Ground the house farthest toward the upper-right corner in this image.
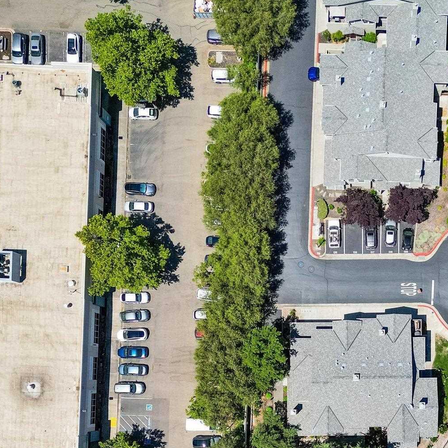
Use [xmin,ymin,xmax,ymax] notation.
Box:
[320,0,448,192]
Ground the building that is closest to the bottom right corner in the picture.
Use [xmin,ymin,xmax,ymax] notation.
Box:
[287,313,438,448]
